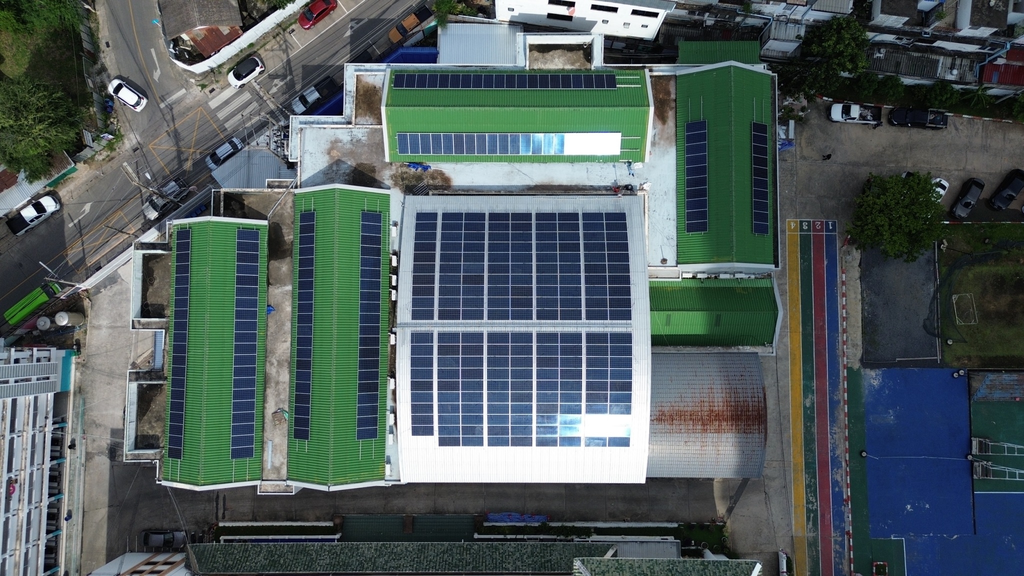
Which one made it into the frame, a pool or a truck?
truck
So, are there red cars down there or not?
Yes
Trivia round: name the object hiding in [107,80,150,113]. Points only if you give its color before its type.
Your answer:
white car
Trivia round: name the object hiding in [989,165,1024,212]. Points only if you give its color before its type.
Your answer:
black car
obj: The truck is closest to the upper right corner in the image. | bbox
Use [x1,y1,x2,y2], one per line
[887,104,951,129]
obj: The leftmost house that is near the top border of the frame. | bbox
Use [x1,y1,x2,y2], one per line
[163,0,248,64]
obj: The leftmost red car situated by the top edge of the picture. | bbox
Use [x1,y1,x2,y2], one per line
[298,0,341,32]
